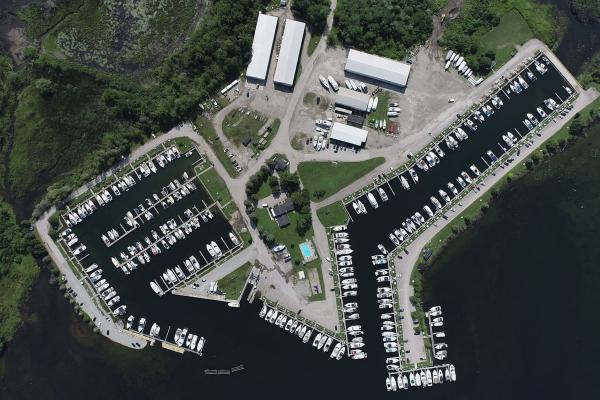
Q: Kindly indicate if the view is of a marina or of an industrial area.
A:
marina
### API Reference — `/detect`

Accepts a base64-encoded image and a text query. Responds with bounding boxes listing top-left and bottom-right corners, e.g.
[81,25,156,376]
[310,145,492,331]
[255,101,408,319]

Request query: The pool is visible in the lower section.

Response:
[299,240,318,262]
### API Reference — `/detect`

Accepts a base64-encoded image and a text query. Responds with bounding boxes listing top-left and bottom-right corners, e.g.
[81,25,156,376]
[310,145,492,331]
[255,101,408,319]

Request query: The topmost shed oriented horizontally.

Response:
[345,49,410,87]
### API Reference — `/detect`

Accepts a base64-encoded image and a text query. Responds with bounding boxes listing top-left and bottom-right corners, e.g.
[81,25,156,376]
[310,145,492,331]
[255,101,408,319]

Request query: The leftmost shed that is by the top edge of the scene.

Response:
[247,13,278,81]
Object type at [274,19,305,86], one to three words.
shed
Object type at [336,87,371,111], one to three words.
building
